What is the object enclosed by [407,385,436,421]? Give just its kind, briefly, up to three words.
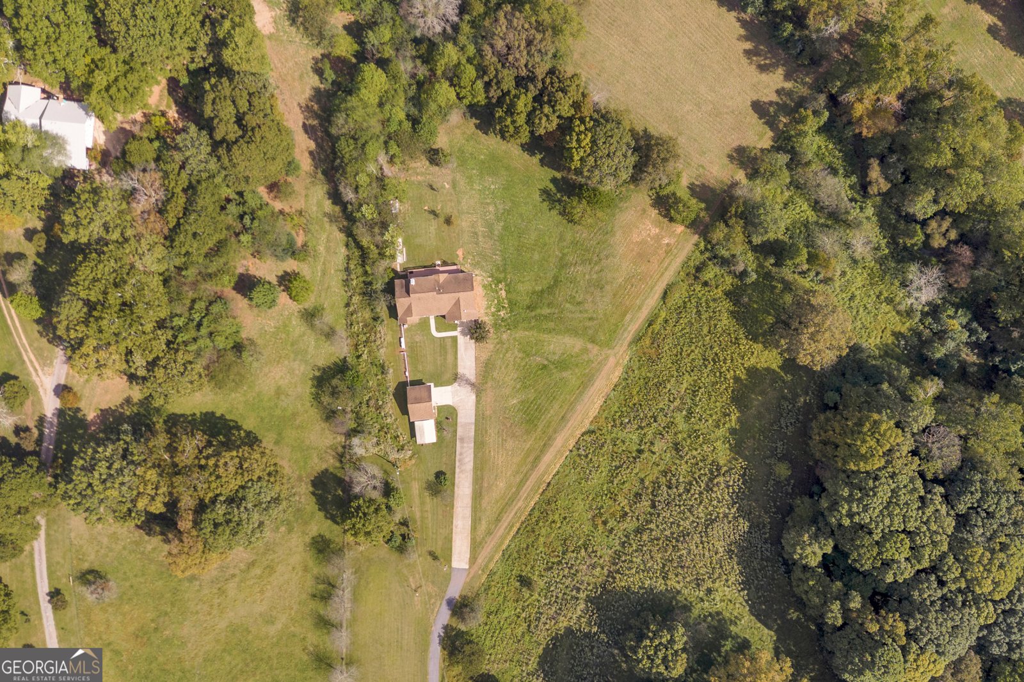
building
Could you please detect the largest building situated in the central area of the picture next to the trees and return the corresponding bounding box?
[395,262,478,324]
